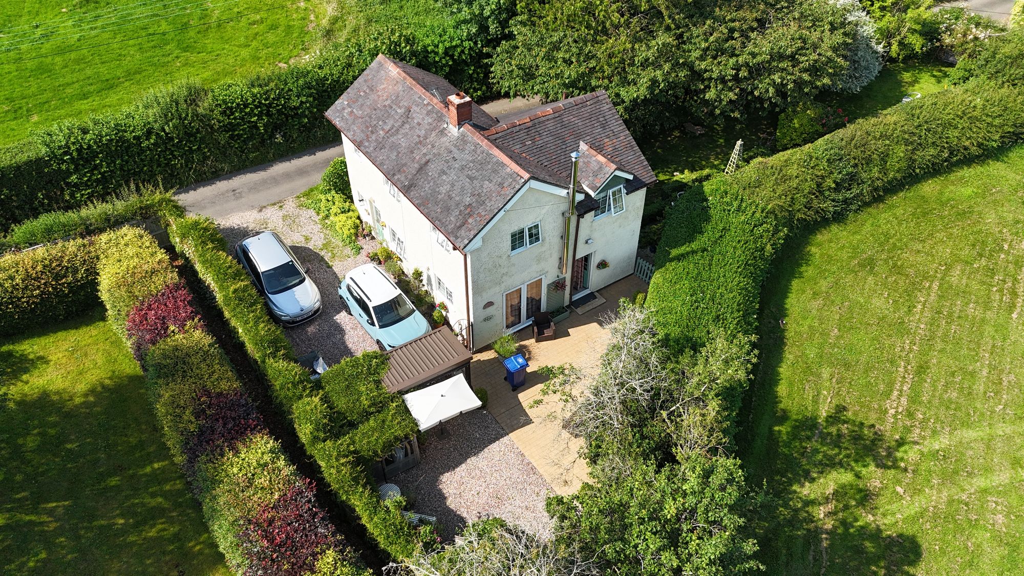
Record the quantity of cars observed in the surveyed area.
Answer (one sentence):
Looking from above, you can make out 2 cars.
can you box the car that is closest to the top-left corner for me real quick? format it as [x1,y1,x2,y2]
[241,235,324,324]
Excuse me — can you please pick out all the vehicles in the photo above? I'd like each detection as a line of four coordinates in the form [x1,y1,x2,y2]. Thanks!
[241,235,324,324]
[341,265,428,354]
